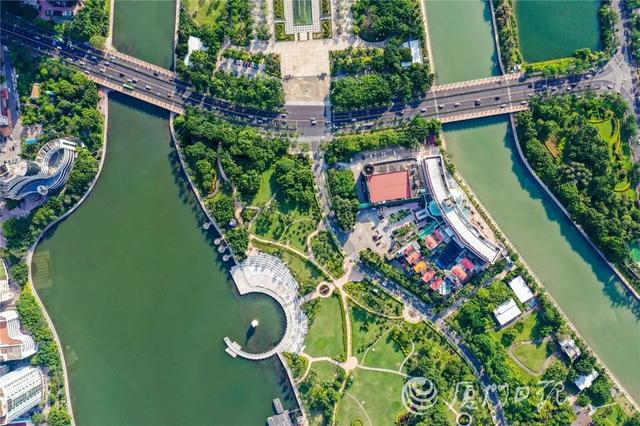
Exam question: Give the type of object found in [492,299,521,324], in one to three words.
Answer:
building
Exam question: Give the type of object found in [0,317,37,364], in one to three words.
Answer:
building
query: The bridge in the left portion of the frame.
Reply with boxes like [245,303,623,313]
[100,49,182,110]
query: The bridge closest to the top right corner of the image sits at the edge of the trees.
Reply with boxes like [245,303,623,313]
[431,75,516,123]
